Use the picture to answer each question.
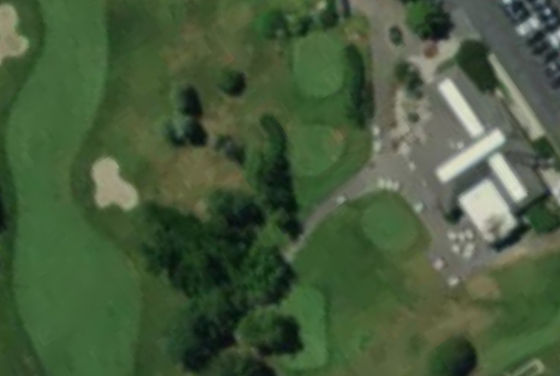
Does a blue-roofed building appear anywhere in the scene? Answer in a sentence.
No, there isn't any blue-roofed building down there.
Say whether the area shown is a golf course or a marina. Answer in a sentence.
This image shows a golf course.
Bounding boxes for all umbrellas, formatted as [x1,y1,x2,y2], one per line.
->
[451,244,460,253]
[447,230,456,240]
[456,232,466,242]
[461,249,471,259]
[465,230,474,239]
[465,242,475,251]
